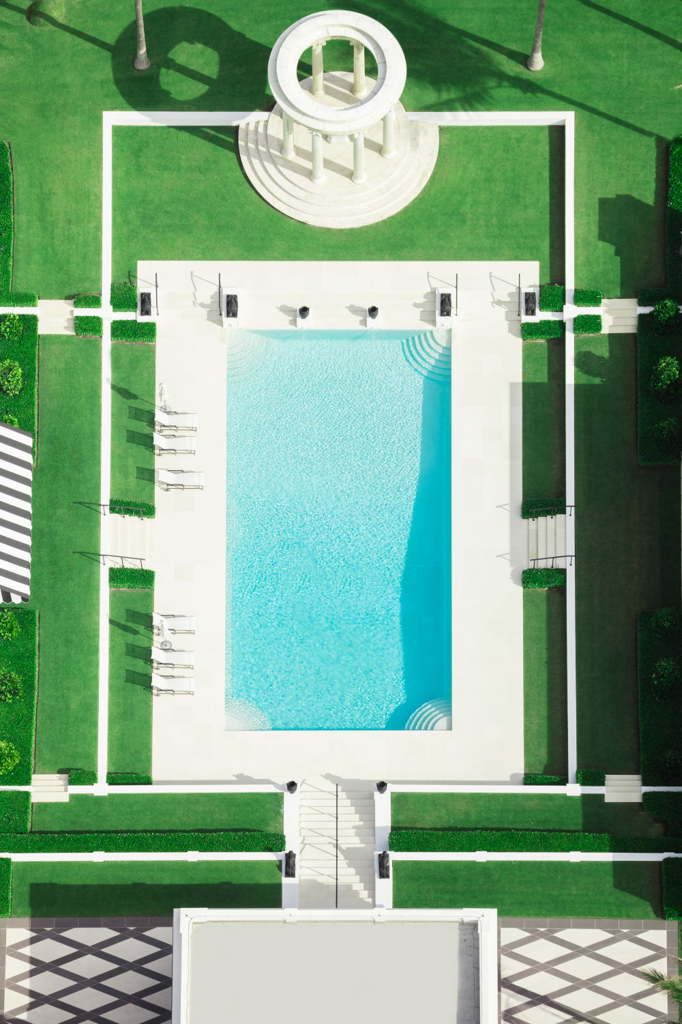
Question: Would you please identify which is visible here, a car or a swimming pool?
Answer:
swimming pool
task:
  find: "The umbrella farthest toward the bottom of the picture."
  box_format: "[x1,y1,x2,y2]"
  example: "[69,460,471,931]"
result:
[160,621,172,650]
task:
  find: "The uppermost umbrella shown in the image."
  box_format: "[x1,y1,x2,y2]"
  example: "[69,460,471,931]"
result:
[159,384,172,414]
